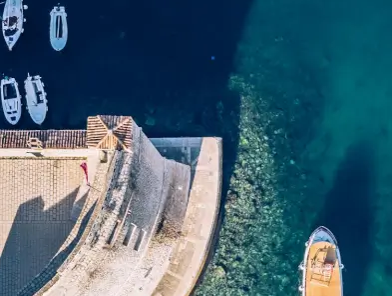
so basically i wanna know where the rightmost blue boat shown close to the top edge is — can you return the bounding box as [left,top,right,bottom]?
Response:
[47,3,69,51]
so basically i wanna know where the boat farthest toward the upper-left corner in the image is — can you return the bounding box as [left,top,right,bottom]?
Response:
[0,0,29,51]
